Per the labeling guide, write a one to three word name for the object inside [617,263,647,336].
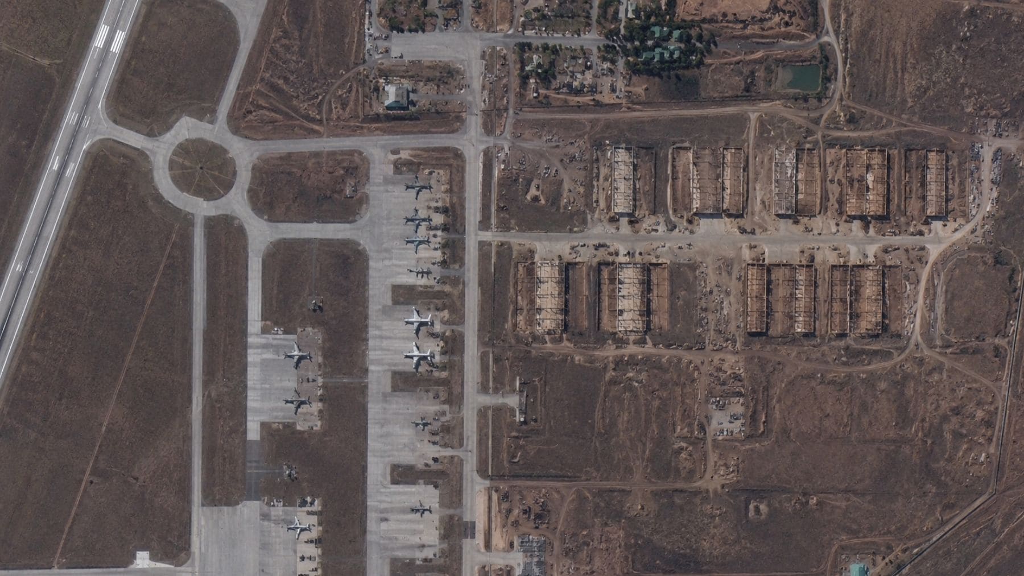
hangar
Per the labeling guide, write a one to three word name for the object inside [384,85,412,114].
building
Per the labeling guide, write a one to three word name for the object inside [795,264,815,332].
hangar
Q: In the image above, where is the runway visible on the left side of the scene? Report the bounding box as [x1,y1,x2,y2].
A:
[0,0,141,386]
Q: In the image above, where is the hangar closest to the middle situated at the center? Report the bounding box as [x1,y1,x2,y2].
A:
[536,262,565,335]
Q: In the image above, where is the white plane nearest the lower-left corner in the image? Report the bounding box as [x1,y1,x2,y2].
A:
[287,516,312,539]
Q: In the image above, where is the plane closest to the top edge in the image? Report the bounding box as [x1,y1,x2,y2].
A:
[405,174,433,199]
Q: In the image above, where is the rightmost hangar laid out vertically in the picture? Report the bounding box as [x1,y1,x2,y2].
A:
[925,149,946,216]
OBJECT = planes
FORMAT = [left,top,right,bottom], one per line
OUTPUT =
[284,341,310,368]
[287,516,312,539]
[404,342,430,369]
[404,207,432,230]
[404,307,430,334]
[408,266,432,278]
[283,387,312,414]
[410,501,432,518]
[404,229,431,253]
[405,174,433,199]
[412,416,430,431]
